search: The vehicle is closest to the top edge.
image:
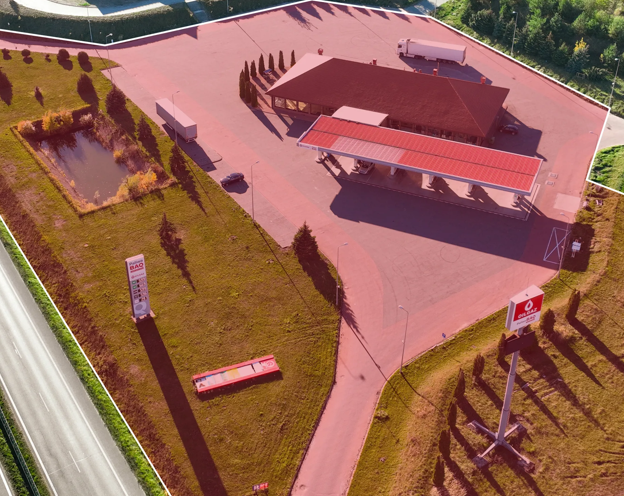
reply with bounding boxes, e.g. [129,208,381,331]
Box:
[398,38,467,63]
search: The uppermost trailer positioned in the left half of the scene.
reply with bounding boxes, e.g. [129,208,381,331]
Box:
[156,98,198,143]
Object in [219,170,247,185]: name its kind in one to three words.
car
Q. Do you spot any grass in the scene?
Yes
